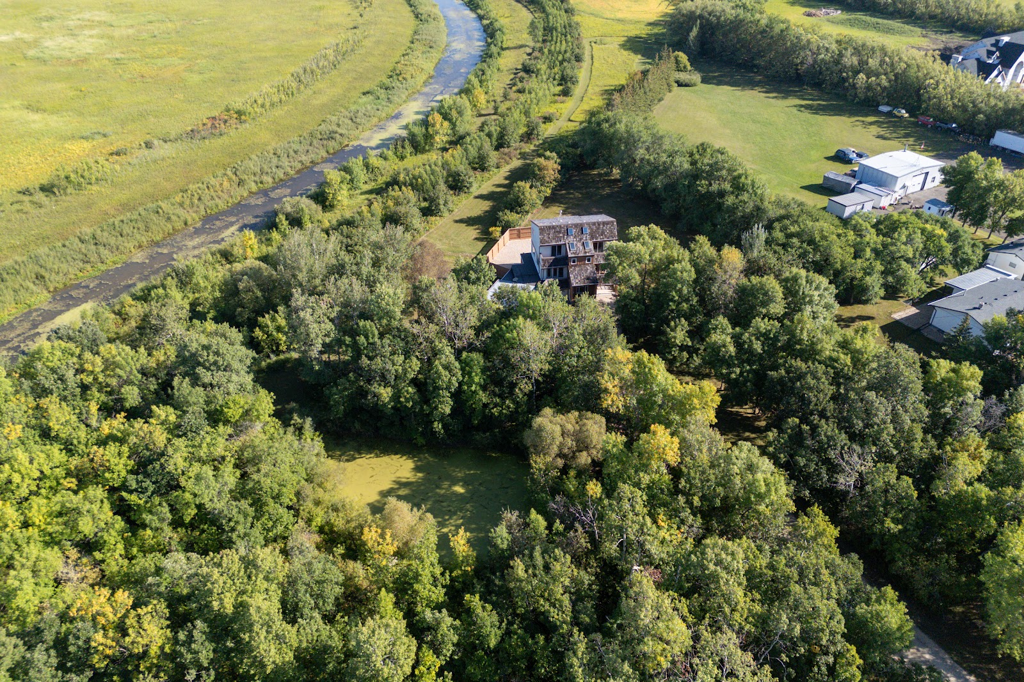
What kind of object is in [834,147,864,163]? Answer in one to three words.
car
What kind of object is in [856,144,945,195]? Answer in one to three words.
building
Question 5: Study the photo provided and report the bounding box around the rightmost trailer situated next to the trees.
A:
[987,127,1024,152]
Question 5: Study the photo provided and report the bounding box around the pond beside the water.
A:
[295,414,533,627]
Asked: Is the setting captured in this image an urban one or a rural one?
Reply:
rural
